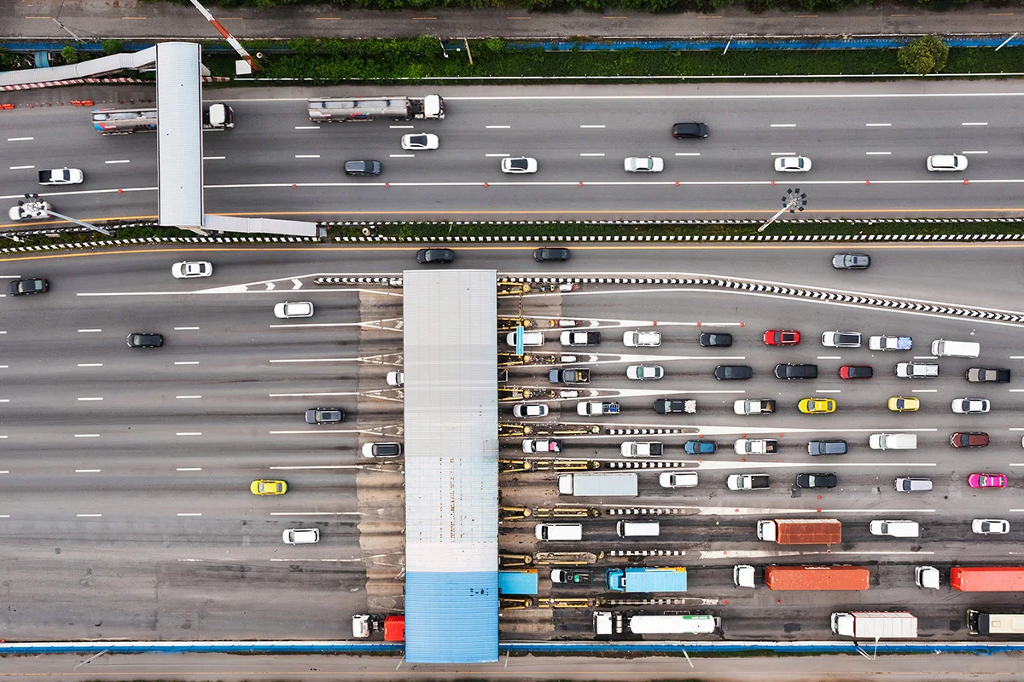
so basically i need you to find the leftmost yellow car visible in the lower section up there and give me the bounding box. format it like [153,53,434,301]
[250,479,289,496]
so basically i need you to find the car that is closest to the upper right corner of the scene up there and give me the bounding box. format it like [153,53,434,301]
[924,153,967,172]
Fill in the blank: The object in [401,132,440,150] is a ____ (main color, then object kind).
white car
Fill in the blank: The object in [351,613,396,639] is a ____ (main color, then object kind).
white truck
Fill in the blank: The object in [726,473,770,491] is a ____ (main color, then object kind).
white vehicle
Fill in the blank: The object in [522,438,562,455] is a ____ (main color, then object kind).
white vehicle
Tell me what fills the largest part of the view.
paved ground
